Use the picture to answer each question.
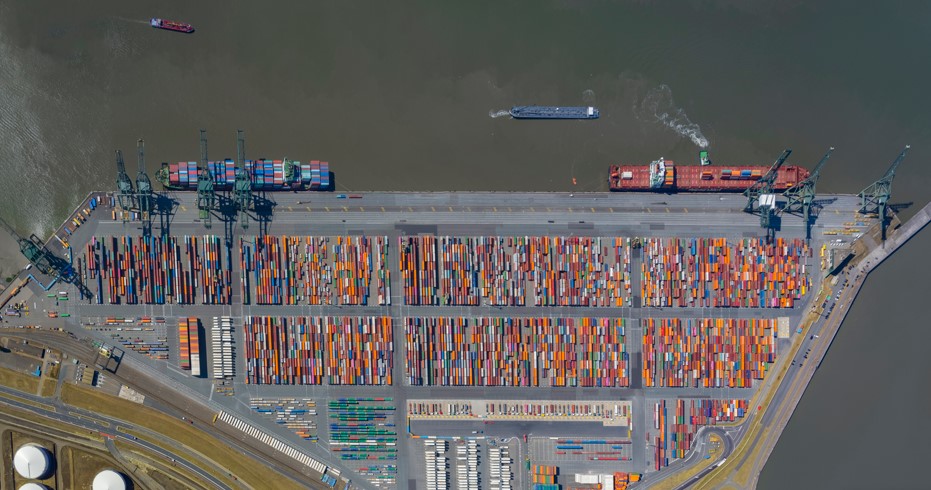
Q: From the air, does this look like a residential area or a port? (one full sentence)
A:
This looks like a port.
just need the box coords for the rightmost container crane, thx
[856,145,916,235]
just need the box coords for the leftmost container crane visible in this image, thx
[0,224,64,284]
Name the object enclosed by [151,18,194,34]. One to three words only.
ship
